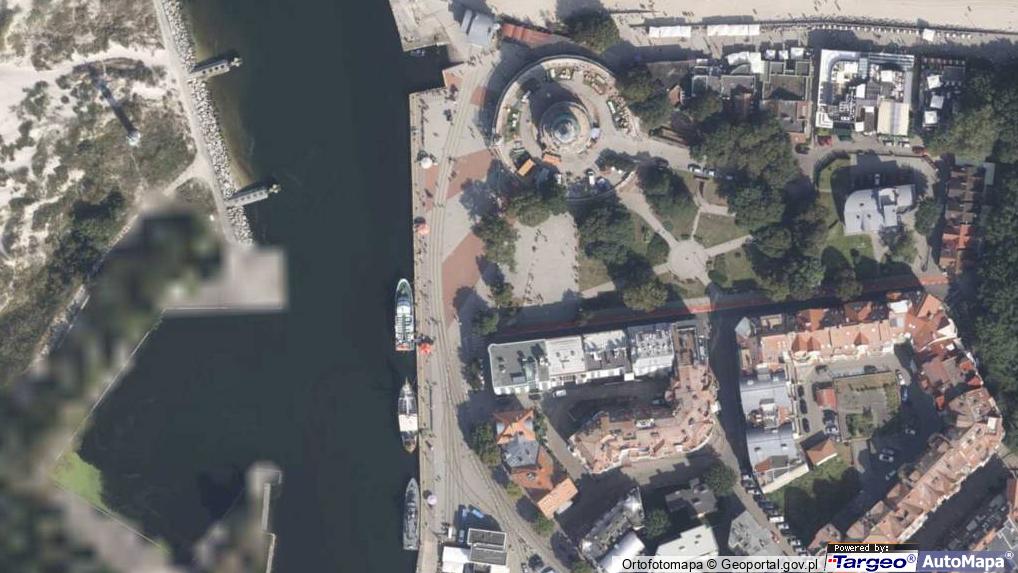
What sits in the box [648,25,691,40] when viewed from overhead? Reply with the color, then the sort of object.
white tent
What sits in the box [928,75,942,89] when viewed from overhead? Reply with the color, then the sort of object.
white umbrella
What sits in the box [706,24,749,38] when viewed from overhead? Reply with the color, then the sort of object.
white tent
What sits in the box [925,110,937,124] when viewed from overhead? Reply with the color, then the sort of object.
white umbrella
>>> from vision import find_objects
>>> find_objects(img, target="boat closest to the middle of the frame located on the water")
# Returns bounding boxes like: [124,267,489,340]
[395,279,418,352]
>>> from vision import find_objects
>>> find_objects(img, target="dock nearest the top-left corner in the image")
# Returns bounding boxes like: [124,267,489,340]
[189,63,232,82]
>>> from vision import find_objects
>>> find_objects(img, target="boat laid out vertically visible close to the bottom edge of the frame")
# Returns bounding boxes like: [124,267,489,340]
[404,478,424,550]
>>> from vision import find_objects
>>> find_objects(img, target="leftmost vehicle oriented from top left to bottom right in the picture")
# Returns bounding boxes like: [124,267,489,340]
[470,507,486,520]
